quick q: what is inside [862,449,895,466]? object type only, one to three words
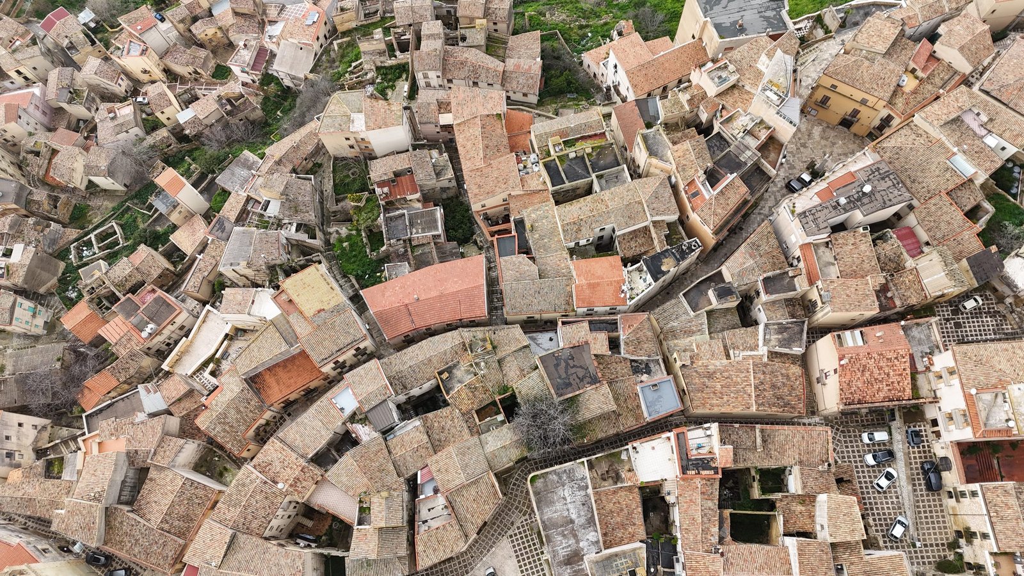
car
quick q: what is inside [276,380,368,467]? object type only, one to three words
house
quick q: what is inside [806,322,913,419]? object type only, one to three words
house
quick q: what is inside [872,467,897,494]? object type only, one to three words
car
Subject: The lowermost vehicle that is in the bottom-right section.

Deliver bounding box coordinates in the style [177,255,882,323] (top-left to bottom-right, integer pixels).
[885,514,907,543]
